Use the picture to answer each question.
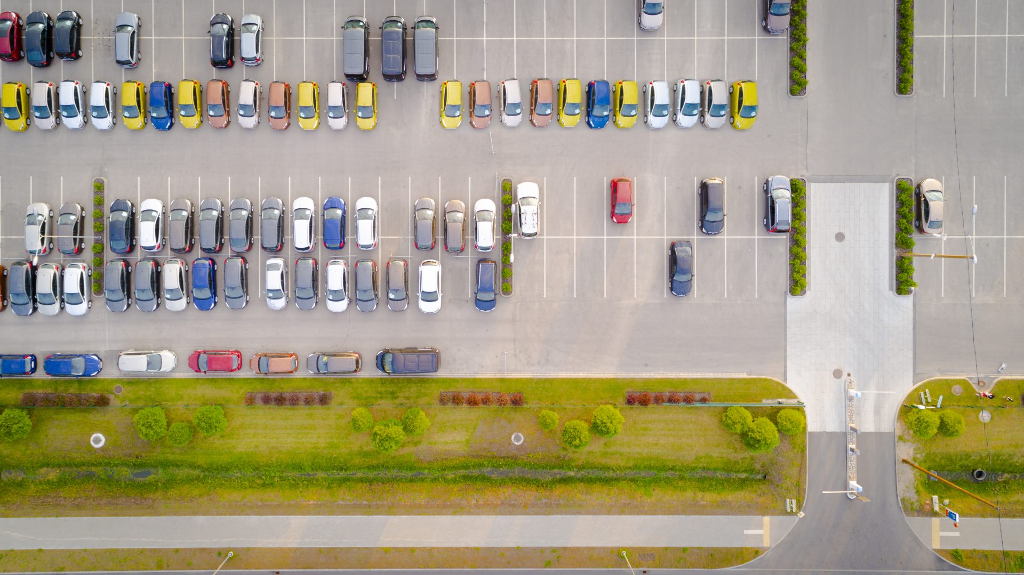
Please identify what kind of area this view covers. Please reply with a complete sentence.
This image shows a parking lot.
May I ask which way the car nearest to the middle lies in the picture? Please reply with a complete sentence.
What the image shows is the car nearest to the middle lying up and down.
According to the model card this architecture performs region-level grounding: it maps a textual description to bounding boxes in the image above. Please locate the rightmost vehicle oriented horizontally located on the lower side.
[376,349,441,376]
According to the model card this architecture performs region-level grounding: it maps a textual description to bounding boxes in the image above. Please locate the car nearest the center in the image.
[473,257,499,313]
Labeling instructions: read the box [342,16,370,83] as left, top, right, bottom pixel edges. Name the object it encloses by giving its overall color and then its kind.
gray van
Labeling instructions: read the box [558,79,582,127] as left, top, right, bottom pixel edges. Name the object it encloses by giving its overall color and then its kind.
yellow car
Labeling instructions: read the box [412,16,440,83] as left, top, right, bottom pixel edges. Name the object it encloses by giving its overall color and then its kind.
gray van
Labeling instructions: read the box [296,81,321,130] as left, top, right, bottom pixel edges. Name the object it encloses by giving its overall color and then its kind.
yellow car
